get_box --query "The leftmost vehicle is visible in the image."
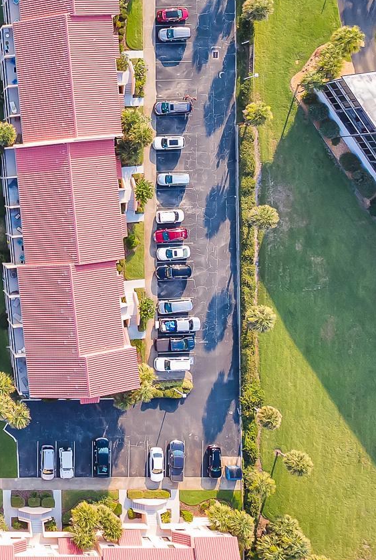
[39,443,56,479]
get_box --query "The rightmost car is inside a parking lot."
[205,443,222,477]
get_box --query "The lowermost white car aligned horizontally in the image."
[154,356,190,373]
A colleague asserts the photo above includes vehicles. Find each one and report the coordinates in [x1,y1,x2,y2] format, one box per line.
[155,209,184,224]
[155,7,187,23]
[155,100,190,116]
[156,246,189,261]
[39,443,56,479]
[166,440,185,481]
[154,356,190,373]
[156,264,189,279]
[147,446,164,480]
[158,317,198,334]
[58,444,75,477]
[154,336,194,353]
[205,443,222,477]
[155,171,189,187]
[150,135,184,150]
[156,27,190,42]
[152,227,187,243]
[157,298,192,315]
